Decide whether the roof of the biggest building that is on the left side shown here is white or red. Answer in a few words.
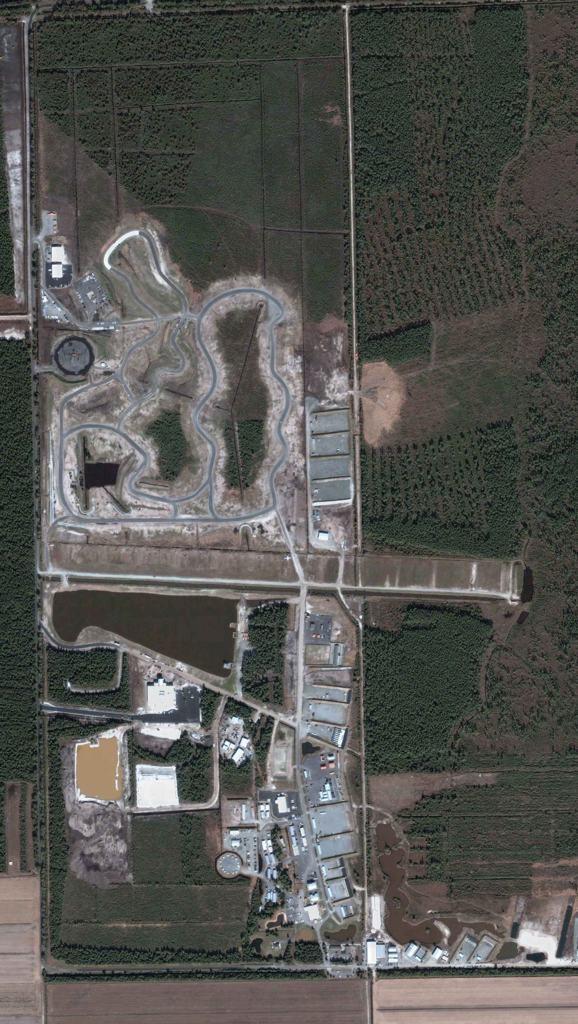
white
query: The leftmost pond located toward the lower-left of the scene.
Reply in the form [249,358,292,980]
[75,736,123,801]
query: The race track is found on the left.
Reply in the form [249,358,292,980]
[44,230,290,570]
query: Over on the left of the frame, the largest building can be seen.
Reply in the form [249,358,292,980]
[147,682,176,713]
